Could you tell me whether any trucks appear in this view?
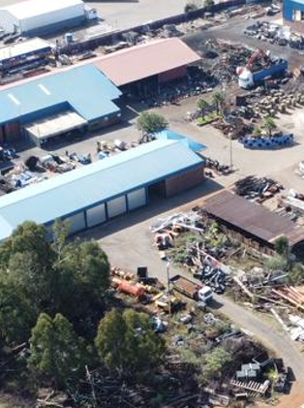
Yes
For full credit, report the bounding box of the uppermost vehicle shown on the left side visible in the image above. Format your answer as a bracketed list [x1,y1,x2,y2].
[84,6,103,19]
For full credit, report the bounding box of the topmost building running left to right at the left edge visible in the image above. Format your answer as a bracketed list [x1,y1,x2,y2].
[0,0,85,40]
